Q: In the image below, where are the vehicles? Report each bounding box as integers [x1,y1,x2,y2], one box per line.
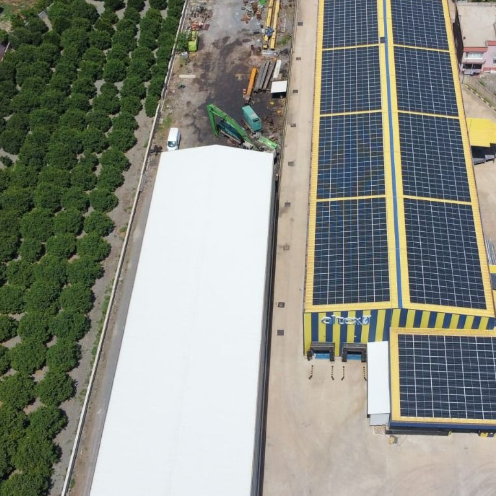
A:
[208,104,265,151]
[165,122,182,151]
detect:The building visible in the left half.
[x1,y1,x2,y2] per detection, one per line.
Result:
[88,147,274,496]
